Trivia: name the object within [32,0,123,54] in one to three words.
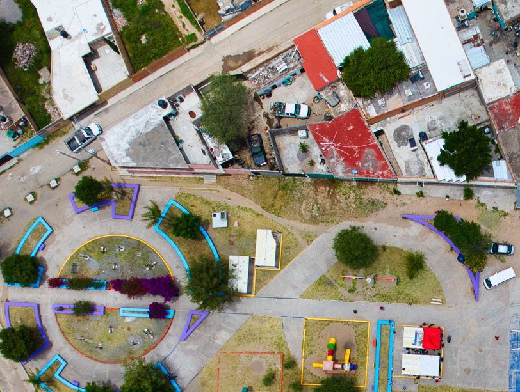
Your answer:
house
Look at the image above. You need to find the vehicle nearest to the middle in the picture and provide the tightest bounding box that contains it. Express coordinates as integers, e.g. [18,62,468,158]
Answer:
[248,132,266,167]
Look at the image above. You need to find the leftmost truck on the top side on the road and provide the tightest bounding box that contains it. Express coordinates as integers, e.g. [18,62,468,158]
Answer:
[62,124,103,151]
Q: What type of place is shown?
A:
residential area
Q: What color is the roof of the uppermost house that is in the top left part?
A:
white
